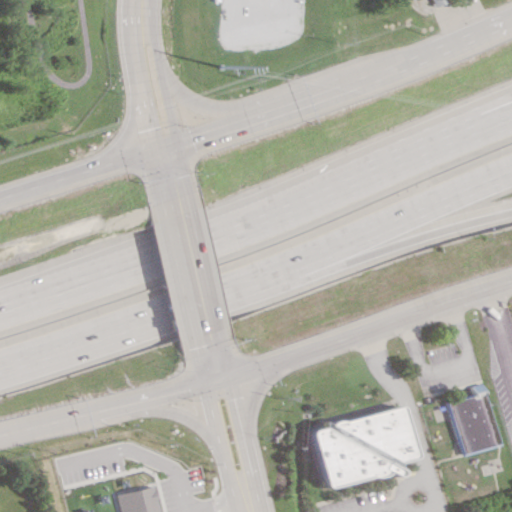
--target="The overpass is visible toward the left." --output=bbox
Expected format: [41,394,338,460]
[146,176,236,361]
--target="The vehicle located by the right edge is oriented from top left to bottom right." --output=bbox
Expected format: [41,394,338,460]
[487,308,503,322]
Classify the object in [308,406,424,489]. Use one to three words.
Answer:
building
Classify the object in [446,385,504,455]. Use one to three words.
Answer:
building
